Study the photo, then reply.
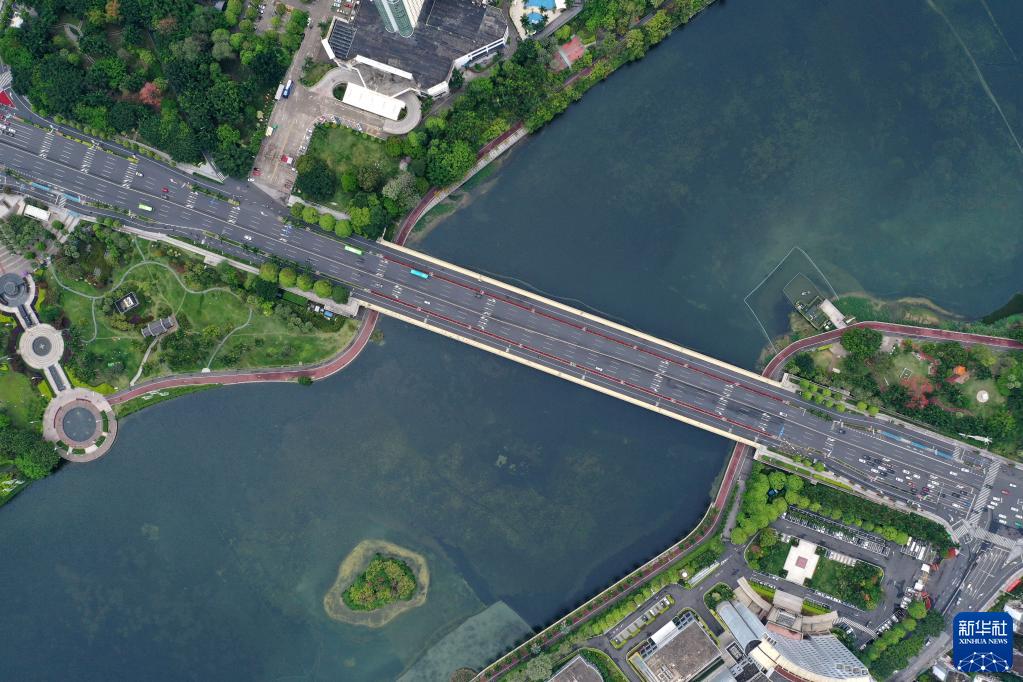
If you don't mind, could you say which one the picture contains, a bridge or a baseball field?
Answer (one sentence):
The one in the frame is a bridge.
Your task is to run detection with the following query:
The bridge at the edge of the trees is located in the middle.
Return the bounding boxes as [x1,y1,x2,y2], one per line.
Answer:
[355,240,797,449]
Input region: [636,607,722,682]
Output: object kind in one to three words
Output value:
building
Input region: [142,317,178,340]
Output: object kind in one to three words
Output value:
house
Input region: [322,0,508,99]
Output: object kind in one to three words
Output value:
building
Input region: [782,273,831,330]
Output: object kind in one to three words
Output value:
pier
